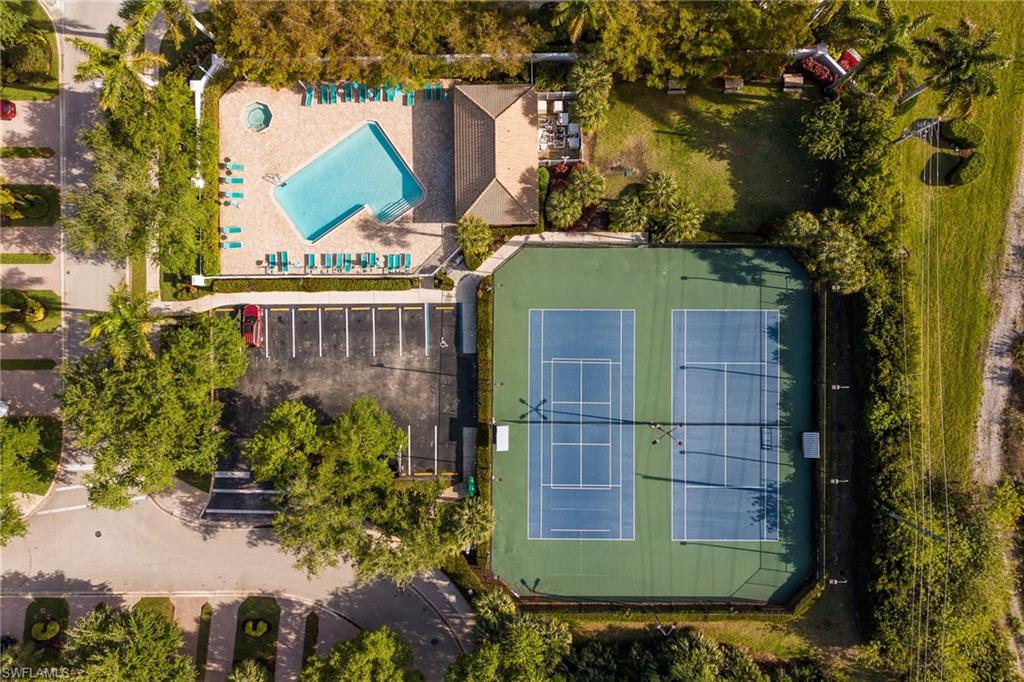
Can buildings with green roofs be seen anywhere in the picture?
No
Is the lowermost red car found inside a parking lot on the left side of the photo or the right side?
left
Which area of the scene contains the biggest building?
top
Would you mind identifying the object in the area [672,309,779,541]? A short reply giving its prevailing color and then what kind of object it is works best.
blue tennis court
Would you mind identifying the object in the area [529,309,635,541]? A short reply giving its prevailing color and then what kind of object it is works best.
blue tennis court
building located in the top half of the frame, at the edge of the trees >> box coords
[454,84,539,225]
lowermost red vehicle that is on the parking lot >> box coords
[239,304,264,346]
